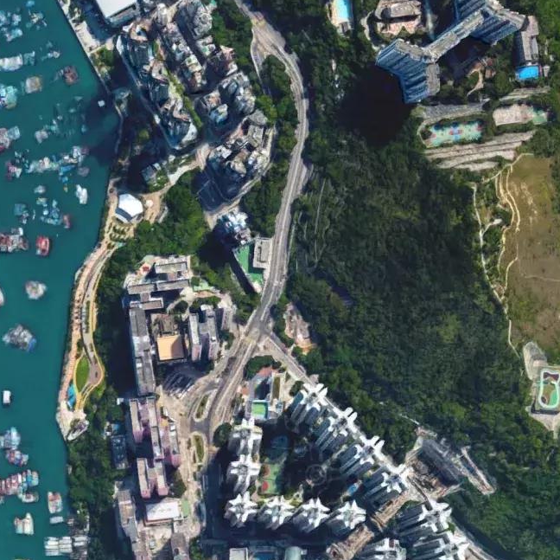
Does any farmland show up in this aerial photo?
No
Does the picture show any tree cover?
Yes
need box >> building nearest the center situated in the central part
[251,237,274,274]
